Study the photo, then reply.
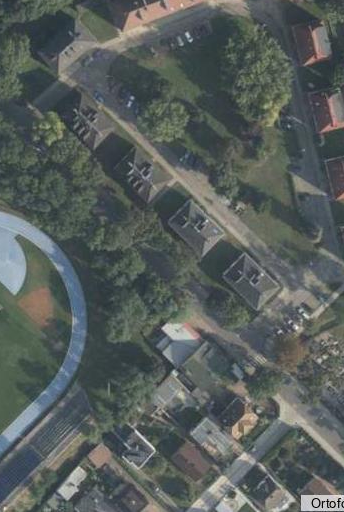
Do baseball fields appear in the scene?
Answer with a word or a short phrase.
No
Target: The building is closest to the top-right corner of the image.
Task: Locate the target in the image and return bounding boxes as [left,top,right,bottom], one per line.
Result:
[291,20,331,67]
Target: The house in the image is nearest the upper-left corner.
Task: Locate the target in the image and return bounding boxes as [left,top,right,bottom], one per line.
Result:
[41,17,97,72]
